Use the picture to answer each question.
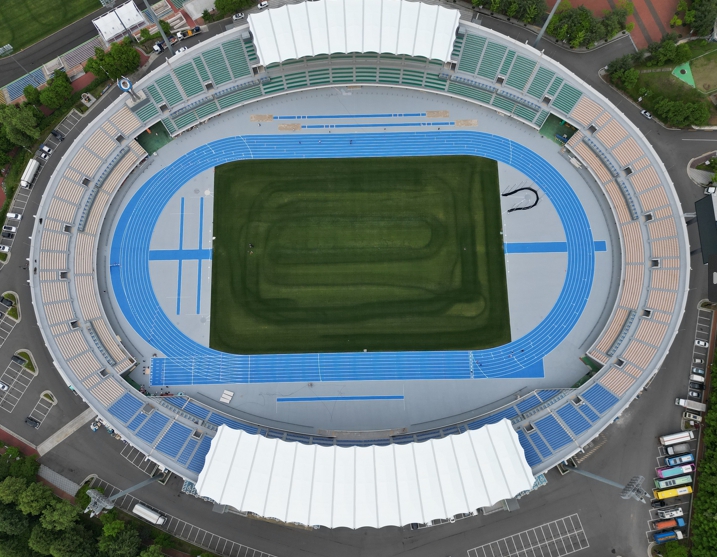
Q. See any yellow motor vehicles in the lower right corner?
Yes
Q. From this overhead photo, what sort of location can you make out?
sports ground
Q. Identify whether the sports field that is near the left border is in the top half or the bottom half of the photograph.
top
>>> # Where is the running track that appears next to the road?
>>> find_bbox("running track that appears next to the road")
[109,110,606,410]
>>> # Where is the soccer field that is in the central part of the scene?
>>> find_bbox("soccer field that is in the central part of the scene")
[209,156,511,354]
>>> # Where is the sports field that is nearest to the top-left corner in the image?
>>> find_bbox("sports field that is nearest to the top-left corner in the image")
[0,0,156,86]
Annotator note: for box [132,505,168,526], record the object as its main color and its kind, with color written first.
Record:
white truck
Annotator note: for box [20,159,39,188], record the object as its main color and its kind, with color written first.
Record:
white vehicle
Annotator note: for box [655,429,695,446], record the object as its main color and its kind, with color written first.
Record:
white vehicle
